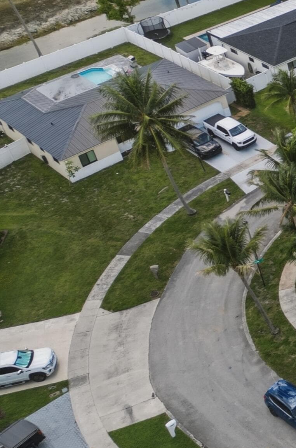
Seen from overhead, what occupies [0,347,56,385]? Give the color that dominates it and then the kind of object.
white truck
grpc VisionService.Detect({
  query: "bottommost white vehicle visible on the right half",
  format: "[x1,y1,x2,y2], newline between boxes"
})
[202,116,257,150]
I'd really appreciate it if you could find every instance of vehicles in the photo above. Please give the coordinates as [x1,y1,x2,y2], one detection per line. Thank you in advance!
[258,378,296,433]
[0,413,56,448]
[0,347,56,385]
[174,124,220,157]
[202,116,257,150]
